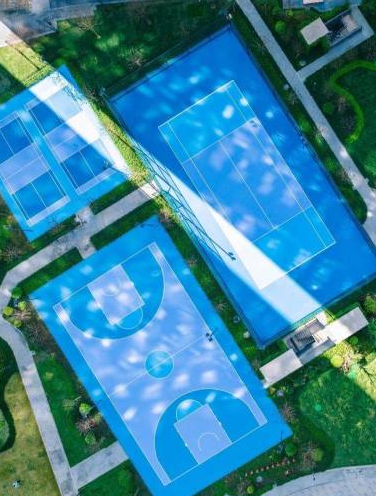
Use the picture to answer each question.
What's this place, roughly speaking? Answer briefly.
sports ground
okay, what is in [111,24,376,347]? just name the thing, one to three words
tennis court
